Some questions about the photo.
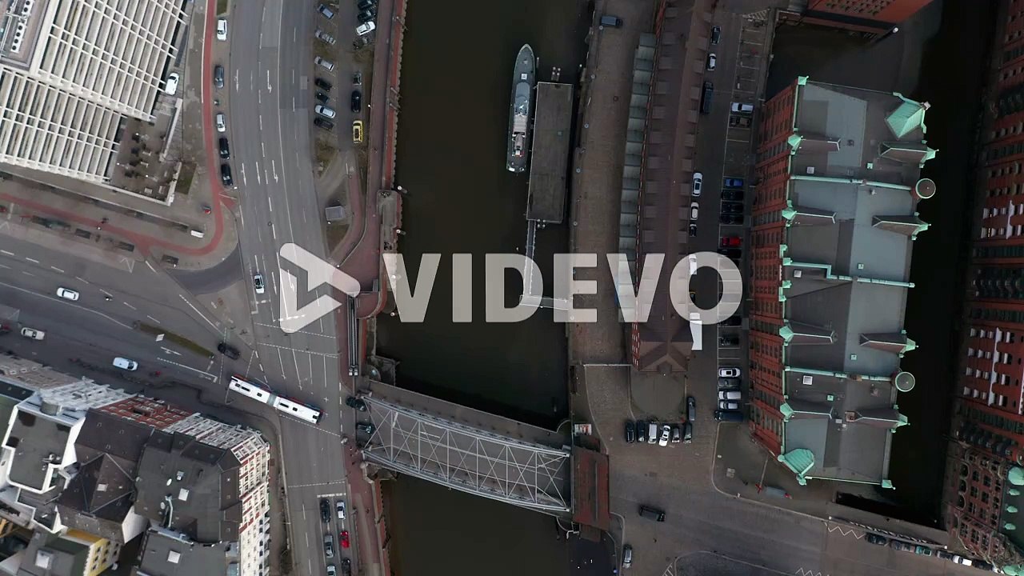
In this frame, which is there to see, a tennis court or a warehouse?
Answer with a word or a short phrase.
warehouse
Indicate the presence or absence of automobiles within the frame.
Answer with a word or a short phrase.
Yes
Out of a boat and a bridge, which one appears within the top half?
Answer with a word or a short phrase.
boat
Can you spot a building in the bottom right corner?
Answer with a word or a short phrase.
Yes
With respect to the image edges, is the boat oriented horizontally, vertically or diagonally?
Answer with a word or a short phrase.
vertically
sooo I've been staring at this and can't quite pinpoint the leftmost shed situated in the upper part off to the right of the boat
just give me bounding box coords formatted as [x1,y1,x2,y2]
[616,0,715,377]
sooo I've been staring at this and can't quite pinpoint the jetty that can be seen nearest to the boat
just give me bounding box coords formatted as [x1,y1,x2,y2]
[523,81,573,225]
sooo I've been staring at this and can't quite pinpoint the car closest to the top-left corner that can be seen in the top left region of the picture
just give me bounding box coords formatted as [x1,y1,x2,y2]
[165,73,178,94]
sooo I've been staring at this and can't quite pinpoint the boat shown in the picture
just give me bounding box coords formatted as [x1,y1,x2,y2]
[506,44,534,173]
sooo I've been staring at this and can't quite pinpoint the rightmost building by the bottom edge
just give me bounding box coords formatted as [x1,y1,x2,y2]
[944,437,1024,576]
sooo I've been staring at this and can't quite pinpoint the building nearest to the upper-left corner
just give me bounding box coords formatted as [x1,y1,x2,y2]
[0,0,184,184]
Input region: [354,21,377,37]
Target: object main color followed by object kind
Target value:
white car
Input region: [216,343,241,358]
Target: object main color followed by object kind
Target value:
black car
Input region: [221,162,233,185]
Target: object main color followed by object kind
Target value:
black vehicle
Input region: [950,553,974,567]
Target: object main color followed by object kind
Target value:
white car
